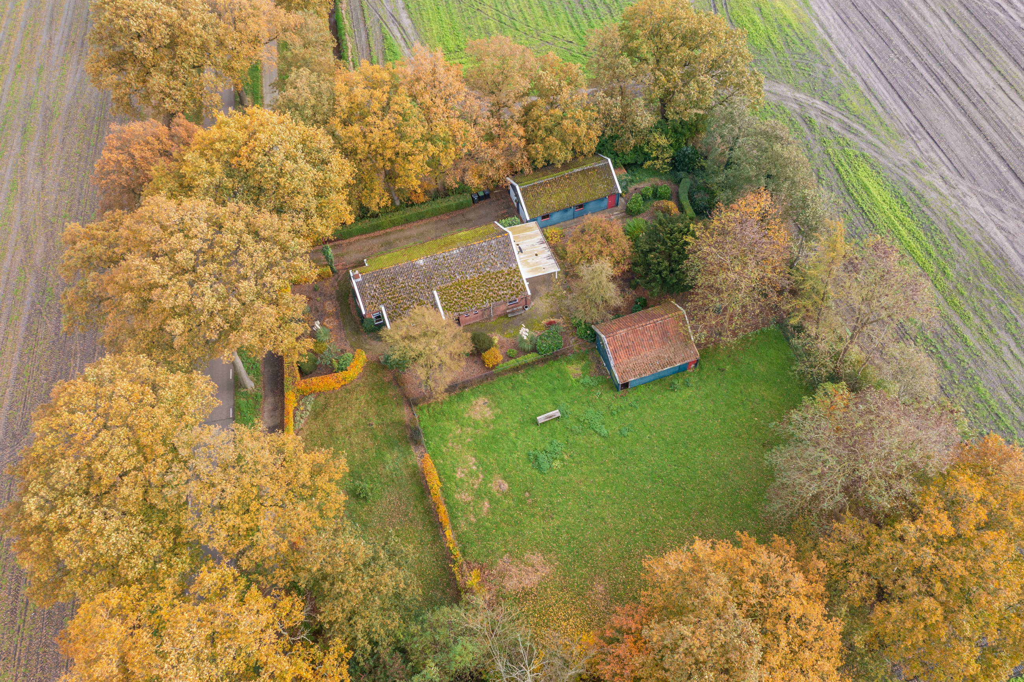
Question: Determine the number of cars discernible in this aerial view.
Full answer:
Not a single car can be seen.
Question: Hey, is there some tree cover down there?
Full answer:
Yes, some tree cover is visible.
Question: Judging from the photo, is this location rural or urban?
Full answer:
From above, the setting appears rural.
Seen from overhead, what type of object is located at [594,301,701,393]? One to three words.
barn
